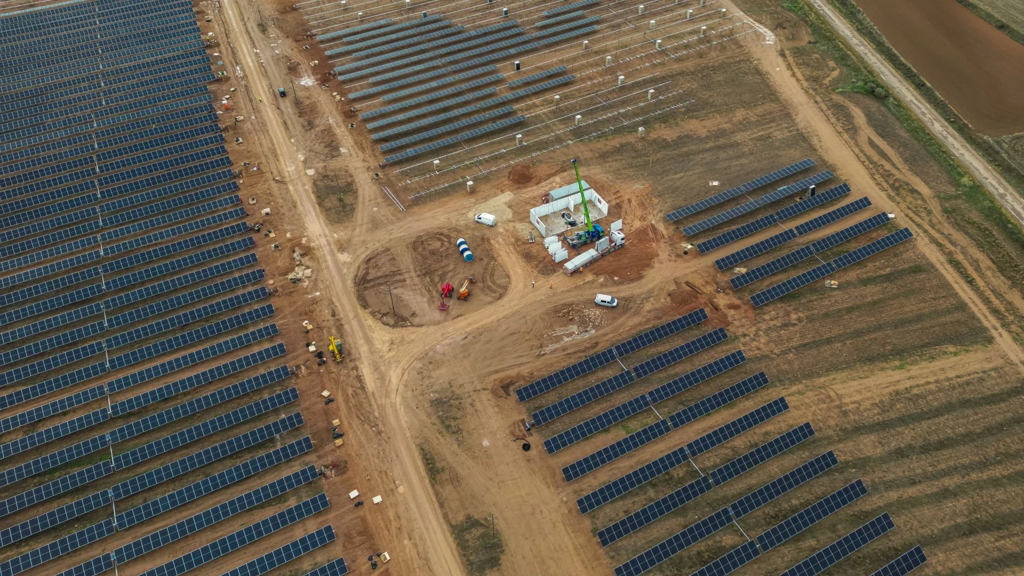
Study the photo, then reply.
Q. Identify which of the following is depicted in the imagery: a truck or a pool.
truck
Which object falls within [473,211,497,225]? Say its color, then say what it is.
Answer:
white vehicle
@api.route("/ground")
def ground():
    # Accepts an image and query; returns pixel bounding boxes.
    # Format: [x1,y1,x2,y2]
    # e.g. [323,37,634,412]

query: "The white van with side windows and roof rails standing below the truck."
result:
[593,291,619,307]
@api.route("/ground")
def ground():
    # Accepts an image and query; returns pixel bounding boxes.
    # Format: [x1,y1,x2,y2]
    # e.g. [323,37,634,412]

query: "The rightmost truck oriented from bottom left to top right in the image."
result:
[563,230,628,273]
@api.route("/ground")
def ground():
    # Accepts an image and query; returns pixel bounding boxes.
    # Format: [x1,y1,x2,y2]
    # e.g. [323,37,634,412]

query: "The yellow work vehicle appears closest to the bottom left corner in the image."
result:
[326,330,345,365]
